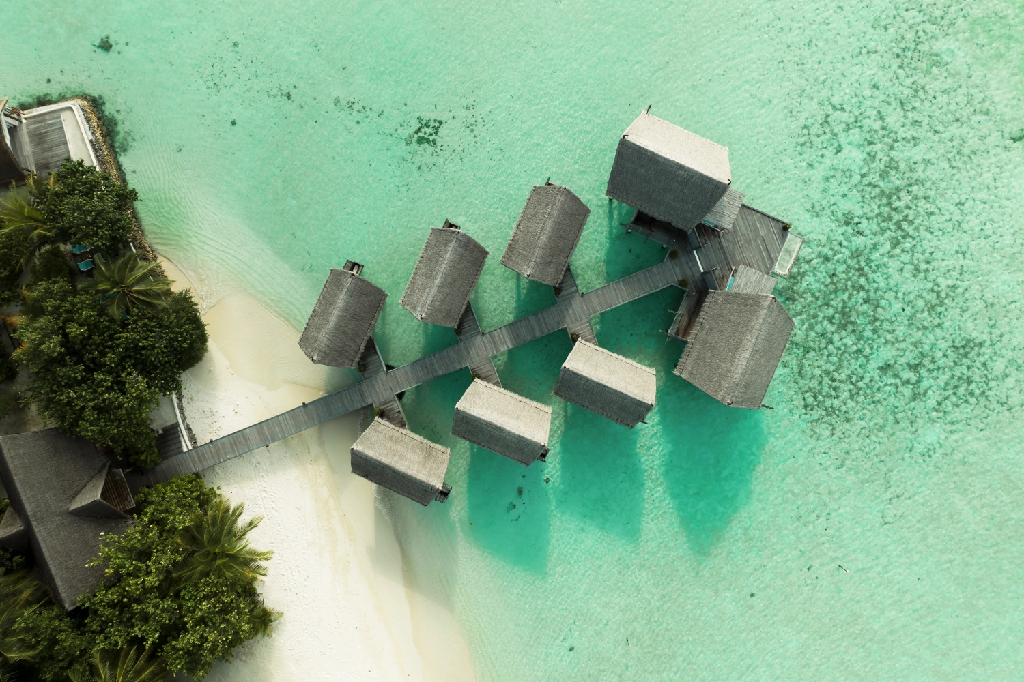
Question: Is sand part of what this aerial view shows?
Yes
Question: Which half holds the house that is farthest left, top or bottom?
top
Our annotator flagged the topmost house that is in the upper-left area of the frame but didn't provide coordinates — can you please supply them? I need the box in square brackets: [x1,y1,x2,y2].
[0,96,49,189]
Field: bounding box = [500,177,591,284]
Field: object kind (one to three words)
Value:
building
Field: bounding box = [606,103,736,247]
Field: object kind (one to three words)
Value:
building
